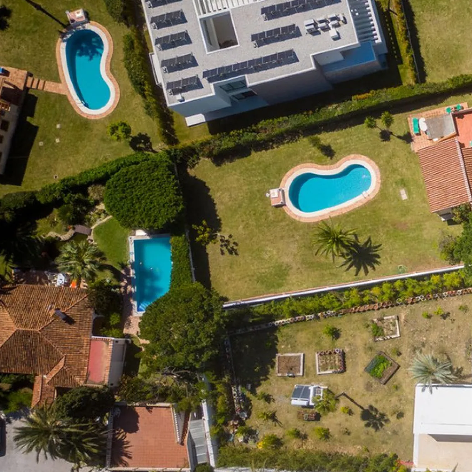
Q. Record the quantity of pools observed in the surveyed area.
3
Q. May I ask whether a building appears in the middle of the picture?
Yes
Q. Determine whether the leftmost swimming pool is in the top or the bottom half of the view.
top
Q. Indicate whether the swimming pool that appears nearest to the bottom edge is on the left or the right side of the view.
left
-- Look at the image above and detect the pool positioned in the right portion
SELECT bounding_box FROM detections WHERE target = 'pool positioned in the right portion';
[280,155,382,221]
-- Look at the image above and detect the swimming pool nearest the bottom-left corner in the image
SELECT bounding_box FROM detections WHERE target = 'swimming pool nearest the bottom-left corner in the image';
[128,232,176,317]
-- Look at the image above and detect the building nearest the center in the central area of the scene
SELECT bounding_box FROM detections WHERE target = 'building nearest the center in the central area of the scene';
[269,187,288,208]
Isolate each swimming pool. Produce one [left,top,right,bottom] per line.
[280,155,382,221]
[128,232,176,317]
[56,20,121,120]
